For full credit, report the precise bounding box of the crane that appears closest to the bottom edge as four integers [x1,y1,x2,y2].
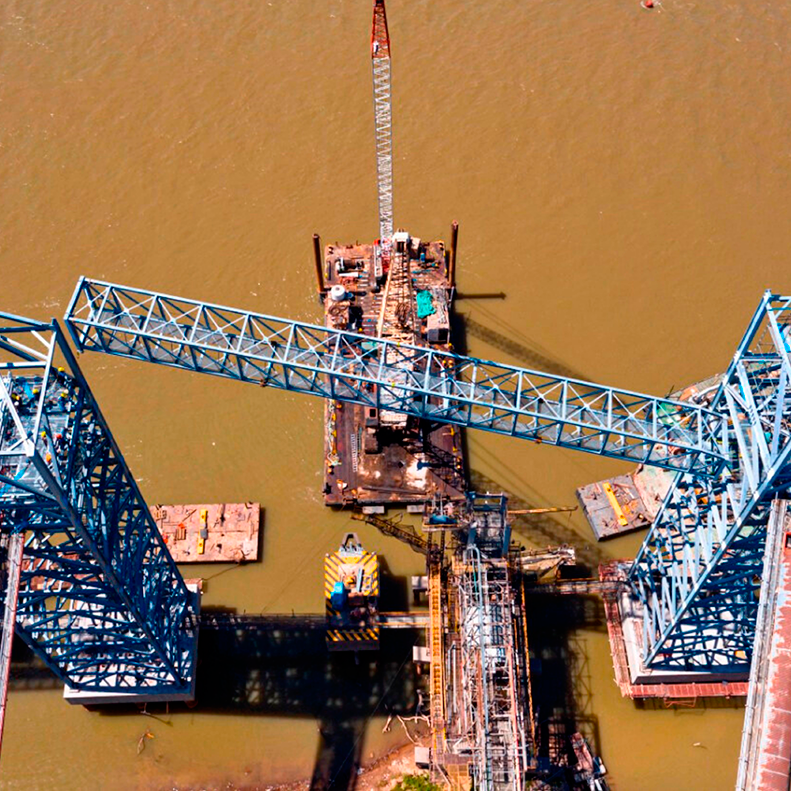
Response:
[342,226,442,453]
